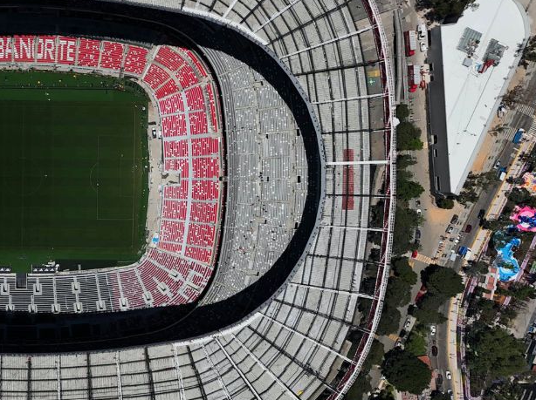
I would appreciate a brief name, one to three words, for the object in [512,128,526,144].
vehicle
